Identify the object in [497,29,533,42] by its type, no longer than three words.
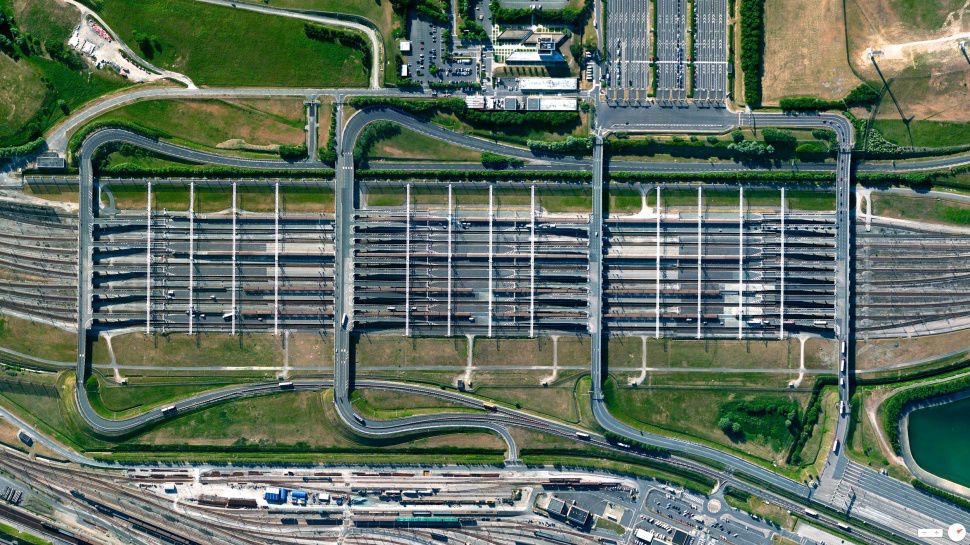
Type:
building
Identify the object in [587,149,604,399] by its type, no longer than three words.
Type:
overpass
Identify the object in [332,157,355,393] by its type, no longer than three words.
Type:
overpass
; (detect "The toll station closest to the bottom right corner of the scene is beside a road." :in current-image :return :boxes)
[811,461,970,545]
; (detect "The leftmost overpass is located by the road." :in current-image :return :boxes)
[77,162,94,384]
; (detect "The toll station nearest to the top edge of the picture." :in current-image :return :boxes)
[604,0,728,98]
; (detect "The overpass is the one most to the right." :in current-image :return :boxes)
[835,150,853,414]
